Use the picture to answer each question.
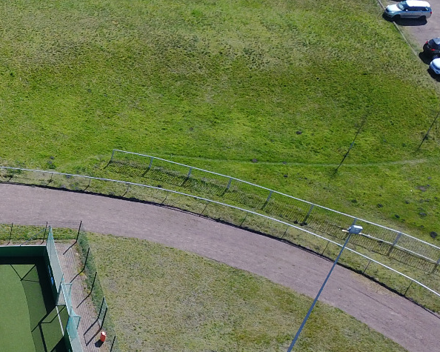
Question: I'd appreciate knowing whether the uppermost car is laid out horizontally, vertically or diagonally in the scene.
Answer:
horizontally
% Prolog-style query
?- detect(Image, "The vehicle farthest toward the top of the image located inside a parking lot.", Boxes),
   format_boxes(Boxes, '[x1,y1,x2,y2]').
[381,1,435,24]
